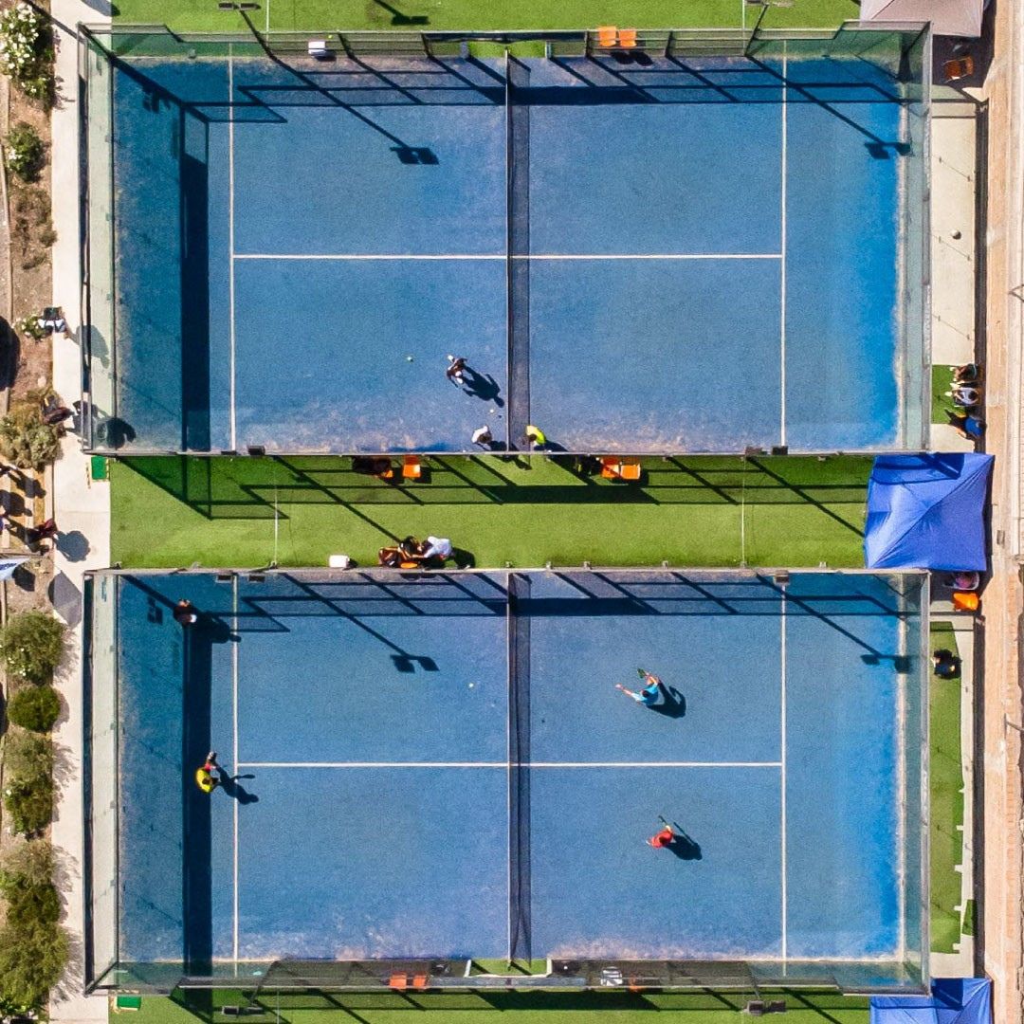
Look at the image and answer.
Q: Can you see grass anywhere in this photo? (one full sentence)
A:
Yes, the picture does contain grass.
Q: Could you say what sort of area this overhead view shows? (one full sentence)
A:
What you see here is a sports ground.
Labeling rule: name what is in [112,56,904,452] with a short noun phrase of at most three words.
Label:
sports court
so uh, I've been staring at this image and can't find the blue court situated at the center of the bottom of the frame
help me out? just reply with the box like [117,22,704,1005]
[115,567,905,962]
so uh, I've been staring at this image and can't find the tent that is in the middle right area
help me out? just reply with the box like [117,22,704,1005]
[856,454,994,571]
